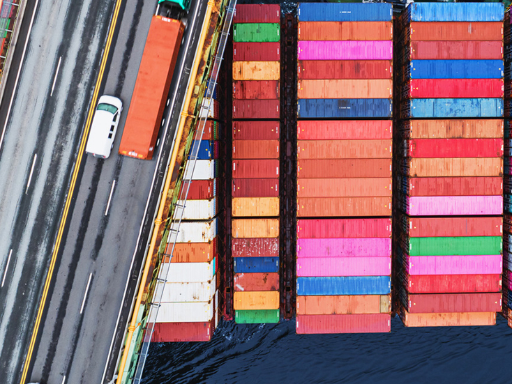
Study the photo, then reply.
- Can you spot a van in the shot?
Yes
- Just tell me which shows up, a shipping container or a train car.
shipping container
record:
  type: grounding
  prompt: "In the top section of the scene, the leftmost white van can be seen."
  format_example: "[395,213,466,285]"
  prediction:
[85,94,124,161]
